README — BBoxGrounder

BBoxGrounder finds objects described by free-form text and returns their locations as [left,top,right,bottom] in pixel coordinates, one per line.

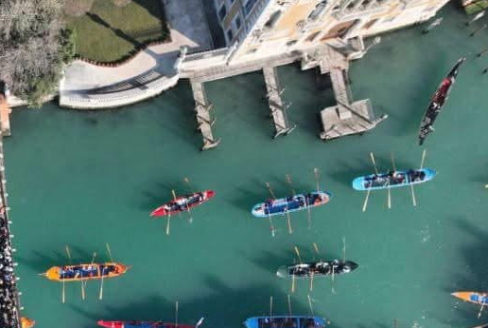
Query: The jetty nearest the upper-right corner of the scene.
[326,71,349,108]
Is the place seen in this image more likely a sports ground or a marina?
marina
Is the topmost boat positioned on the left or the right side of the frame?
right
